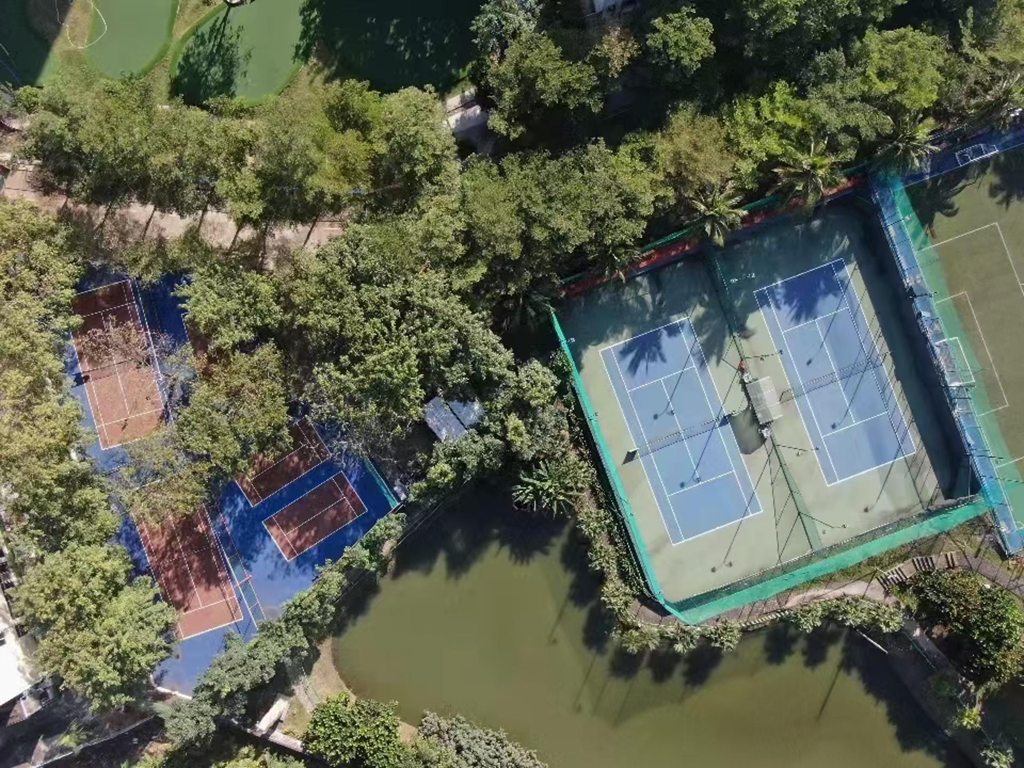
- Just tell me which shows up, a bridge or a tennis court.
tennis court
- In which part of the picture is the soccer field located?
right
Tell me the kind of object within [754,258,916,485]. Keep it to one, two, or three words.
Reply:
tennis court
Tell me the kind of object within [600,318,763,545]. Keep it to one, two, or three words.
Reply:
tennis court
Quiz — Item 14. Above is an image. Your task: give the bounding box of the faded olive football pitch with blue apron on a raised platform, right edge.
[861,115,1024,555]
